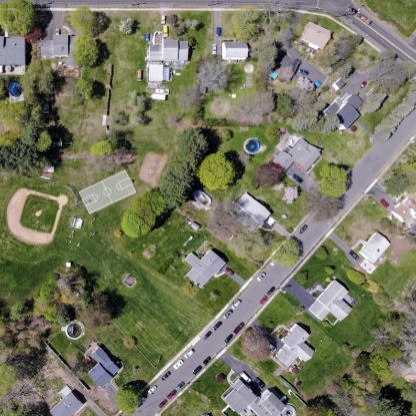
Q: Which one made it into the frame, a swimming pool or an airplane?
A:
swimming pool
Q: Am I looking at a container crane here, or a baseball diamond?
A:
baseball diamond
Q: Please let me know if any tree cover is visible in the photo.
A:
Yes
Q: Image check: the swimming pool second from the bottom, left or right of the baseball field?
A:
on its right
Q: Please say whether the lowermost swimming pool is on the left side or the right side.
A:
left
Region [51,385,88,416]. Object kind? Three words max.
house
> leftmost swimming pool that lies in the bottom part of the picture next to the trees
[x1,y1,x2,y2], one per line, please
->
[61,321,85,342]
